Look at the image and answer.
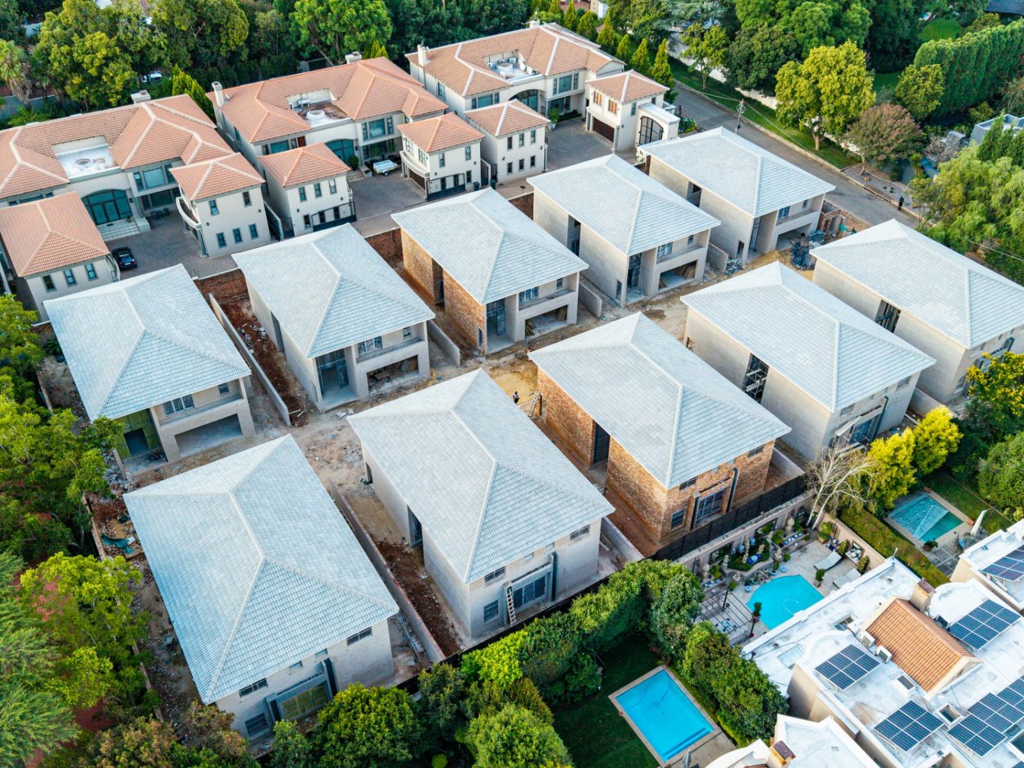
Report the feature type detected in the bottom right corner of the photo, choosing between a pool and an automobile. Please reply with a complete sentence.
What appears in the bottom right corner of the photo is a pool.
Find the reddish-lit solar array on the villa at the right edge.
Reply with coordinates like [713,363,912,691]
[981,548,1024,589]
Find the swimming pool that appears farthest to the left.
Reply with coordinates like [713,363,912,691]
[607,662,723,768]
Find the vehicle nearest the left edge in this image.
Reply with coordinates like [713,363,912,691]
[110,242,139,268]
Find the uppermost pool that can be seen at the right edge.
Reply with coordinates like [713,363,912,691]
[884,486,974,550]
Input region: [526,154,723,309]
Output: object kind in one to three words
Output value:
house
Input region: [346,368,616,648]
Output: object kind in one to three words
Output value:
house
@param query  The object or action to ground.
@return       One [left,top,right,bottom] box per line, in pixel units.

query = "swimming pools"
[884,486,974,550]
[746,570,829,634]
[607,662,723,768]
